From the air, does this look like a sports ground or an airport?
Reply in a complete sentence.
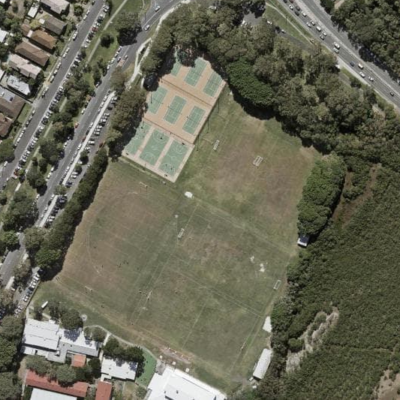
The area seen from above is a sports ground.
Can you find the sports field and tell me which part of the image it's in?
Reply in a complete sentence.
Look in the center portion of the view to spot the sports field.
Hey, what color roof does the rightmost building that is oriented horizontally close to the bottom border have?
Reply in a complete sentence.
From above, the roof of the rightmost building that is oriented horizontally close to the bottom border looks white.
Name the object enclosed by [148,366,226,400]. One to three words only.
building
